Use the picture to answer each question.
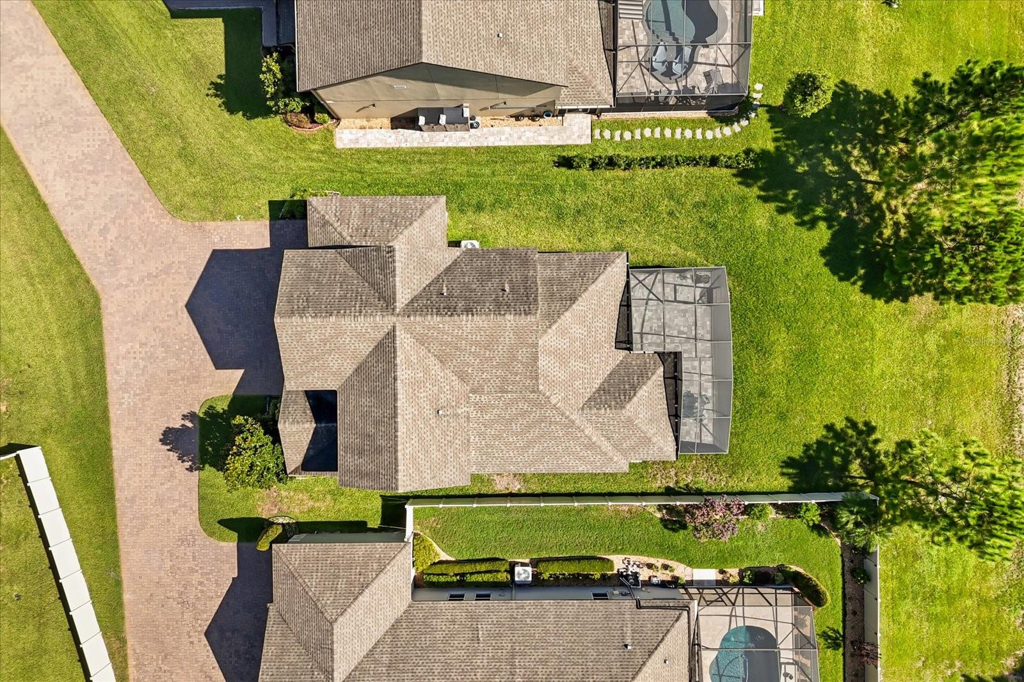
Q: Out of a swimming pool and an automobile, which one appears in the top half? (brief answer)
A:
swimming pool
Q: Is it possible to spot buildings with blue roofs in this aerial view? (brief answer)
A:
No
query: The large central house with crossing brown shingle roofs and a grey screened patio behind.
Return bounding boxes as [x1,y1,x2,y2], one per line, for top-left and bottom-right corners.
[271,195,679,492]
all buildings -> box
[256,532,697,682]
[271,195,679,492]
[276,0,617,122]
